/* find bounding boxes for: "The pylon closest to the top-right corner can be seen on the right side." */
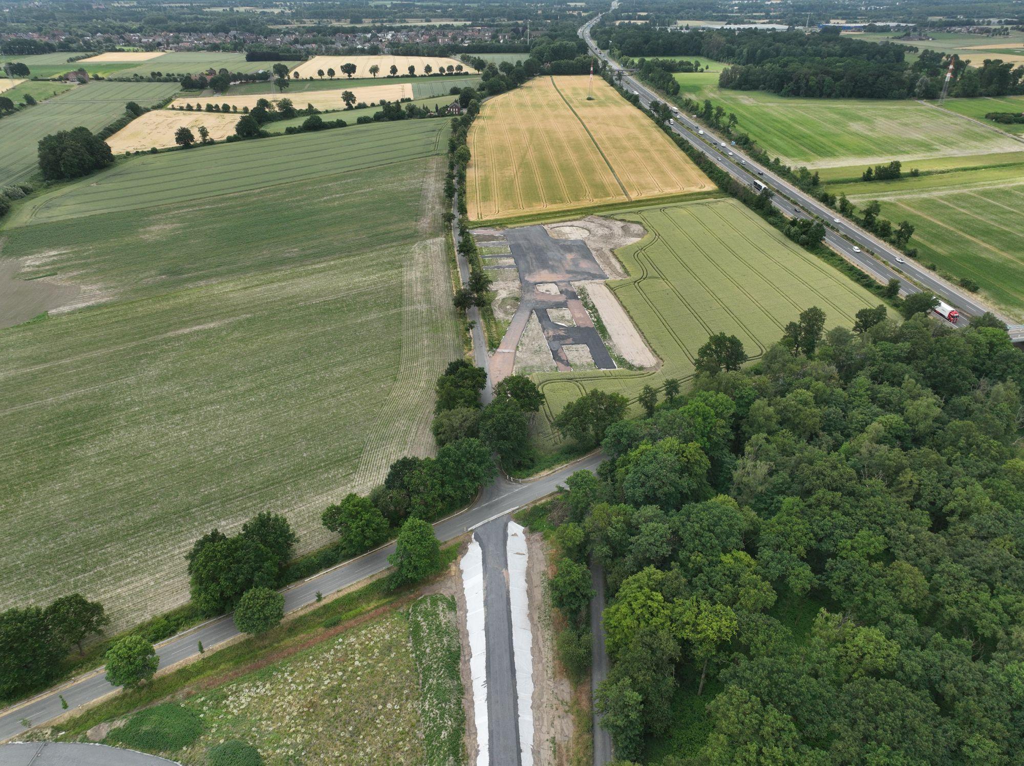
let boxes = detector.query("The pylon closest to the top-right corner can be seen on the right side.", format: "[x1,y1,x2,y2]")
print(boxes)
[936,47,959,105]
